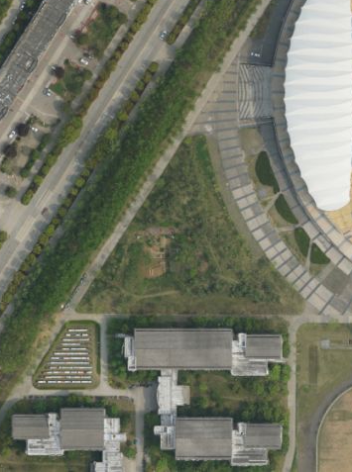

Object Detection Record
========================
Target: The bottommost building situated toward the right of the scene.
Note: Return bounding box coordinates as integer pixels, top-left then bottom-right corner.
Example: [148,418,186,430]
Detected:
[154,418,282,467]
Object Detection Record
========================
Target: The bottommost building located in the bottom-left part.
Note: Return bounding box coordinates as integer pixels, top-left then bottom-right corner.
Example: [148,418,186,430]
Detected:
[10,408,126,472]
